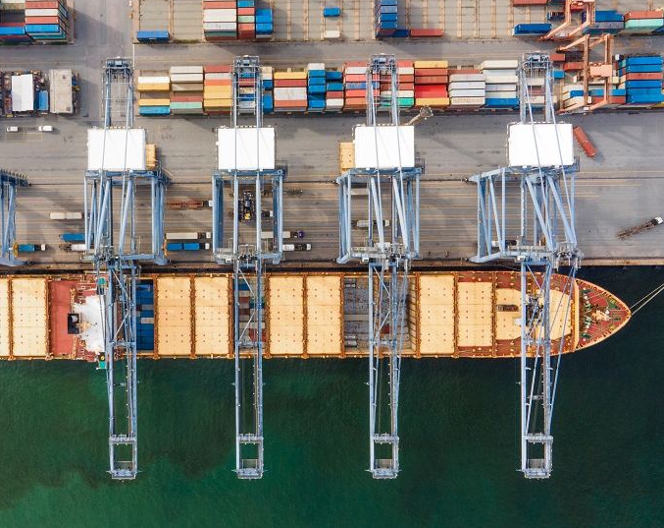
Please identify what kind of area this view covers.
port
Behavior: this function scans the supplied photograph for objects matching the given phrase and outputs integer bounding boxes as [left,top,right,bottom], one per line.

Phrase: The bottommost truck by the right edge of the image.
[618,215,664,240]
